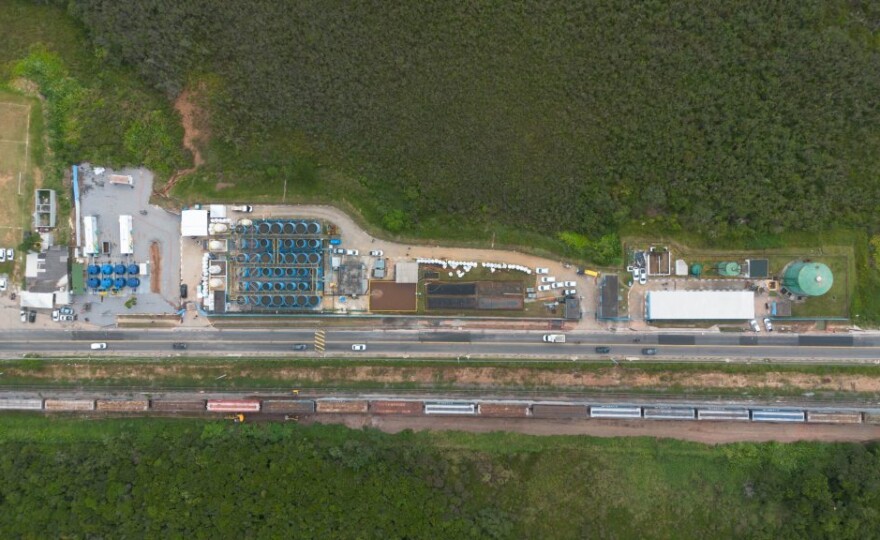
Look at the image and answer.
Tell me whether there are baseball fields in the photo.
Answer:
No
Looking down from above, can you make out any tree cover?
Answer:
Yes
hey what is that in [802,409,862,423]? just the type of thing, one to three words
rail car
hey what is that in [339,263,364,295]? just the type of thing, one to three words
building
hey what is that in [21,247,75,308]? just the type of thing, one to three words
house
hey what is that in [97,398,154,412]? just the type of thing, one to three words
rail car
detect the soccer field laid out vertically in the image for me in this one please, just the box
[0,103,31,242]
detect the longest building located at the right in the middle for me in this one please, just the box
[645,288,755,319]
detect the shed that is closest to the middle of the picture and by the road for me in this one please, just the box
[396,263,419,283]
